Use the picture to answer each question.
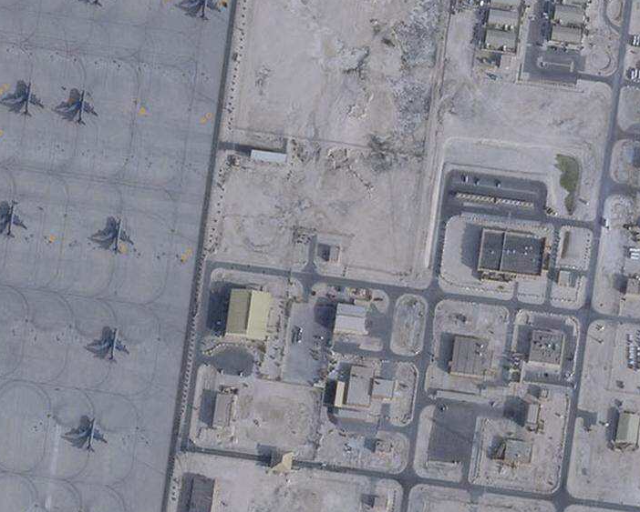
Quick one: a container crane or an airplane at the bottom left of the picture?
airplane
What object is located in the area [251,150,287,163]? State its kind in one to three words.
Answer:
shed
